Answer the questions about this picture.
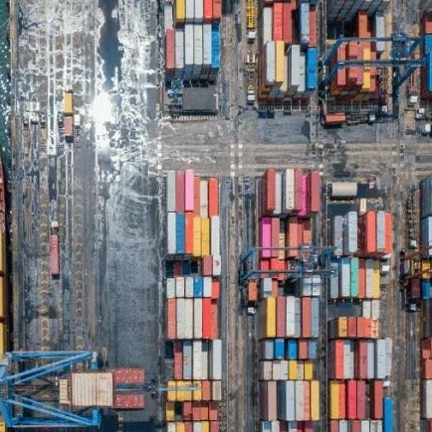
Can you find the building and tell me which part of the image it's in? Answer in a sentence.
Look in the top portion of the view to spot the building.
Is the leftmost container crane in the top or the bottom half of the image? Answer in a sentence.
The leftmost container crane sits in the bottom half of the picture.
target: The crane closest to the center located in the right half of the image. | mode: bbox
[238,245,339,286]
